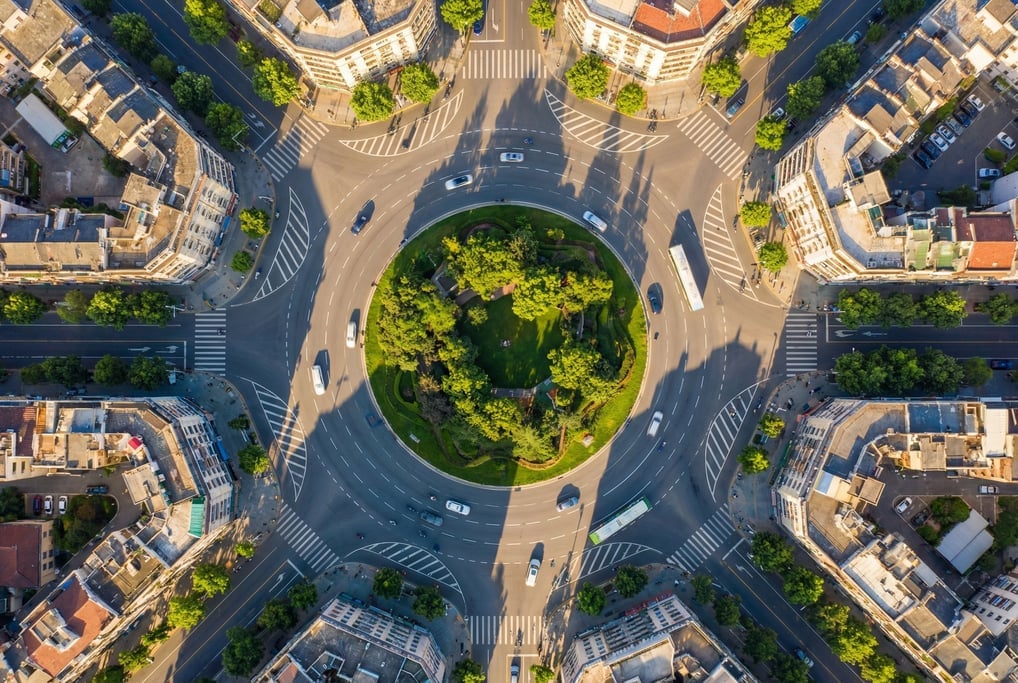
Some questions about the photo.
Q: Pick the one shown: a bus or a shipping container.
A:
bus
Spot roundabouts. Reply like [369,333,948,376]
[196,34,818,656]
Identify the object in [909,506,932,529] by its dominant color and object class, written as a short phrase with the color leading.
black car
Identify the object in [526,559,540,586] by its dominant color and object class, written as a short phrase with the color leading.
white vehicle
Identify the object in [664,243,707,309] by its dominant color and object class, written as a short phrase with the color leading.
white bus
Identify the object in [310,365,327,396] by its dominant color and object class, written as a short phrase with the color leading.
white vehicle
